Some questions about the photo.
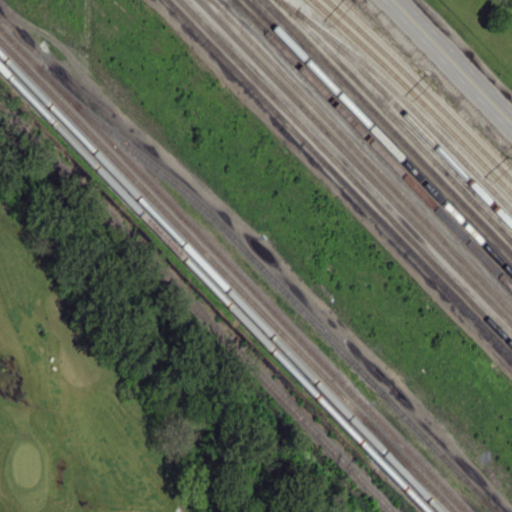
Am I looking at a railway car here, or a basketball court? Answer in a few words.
railway car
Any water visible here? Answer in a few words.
No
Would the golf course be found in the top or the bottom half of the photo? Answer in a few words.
bottom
